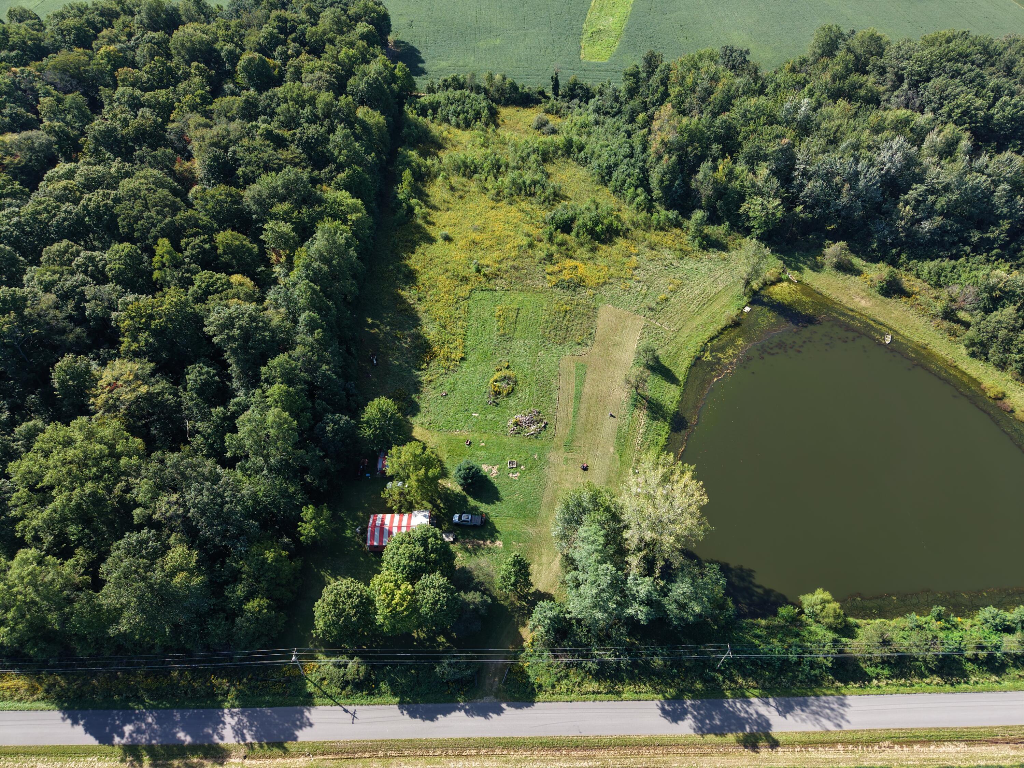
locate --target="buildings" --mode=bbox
[367,508,430,551]
[376,451,401,475]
